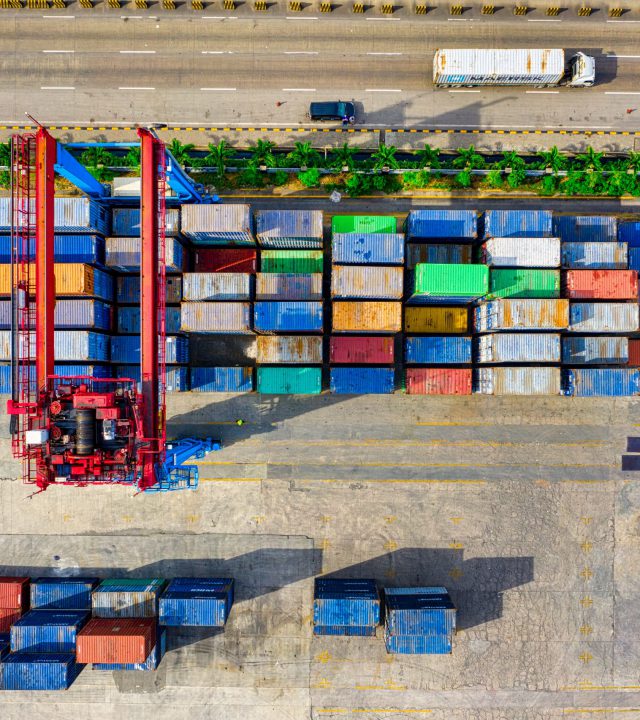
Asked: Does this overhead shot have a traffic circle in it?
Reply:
No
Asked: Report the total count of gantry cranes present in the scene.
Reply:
1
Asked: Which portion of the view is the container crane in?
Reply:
left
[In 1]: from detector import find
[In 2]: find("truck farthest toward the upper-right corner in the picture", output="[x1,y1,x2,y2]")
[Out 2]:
[532,53,590,88]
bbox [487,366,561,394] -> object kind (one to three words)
shipping container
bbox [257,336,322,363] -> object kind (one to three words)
shipping container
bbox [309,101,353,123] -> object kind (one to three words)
vehicle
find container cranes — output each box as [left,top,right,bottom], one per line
[8,112,224,502]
